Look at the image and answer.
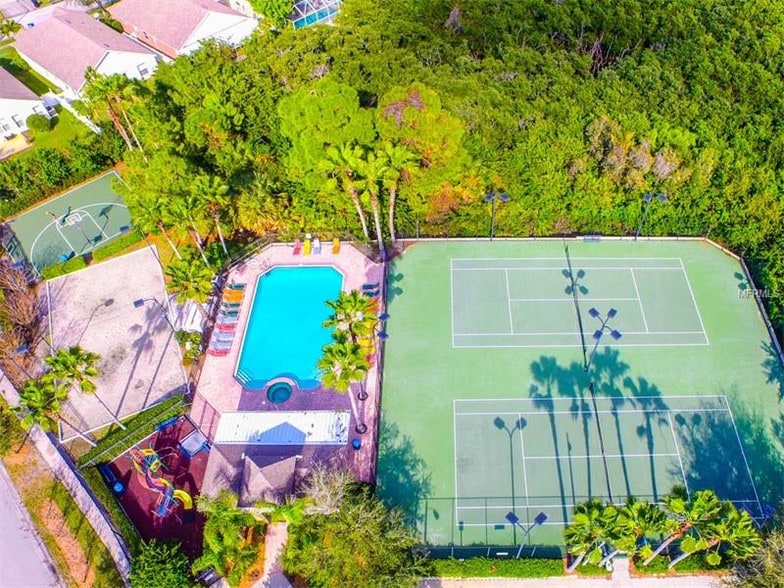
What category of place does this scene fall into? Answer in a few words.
sports ground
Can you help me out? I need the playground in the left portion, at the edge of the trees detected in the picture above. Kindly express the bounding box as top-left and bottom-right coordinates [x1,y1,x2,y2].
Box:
[119,436,196,519]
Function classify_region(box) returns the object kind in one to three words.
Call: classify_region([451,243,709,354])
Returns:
tennis court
